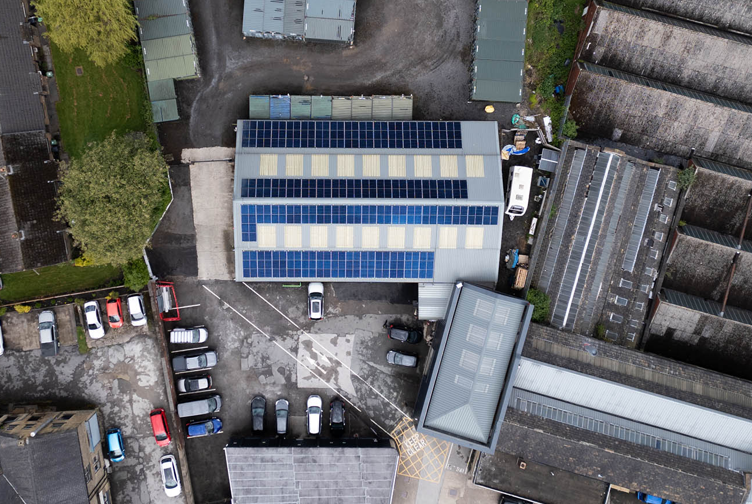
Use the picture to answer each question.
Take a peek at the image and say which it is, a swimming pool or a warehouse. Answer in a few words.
warehouse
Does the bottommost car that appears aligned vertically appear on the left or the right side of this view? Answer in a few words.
left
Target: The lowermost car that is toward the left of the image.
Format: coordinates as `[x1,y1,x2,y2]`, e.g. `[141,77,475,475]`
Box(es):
[160,453,181,497]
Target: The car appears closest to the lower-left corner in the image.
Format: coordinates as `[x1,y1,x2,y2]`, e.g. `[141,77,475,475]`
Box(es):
[107,426,126,462]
